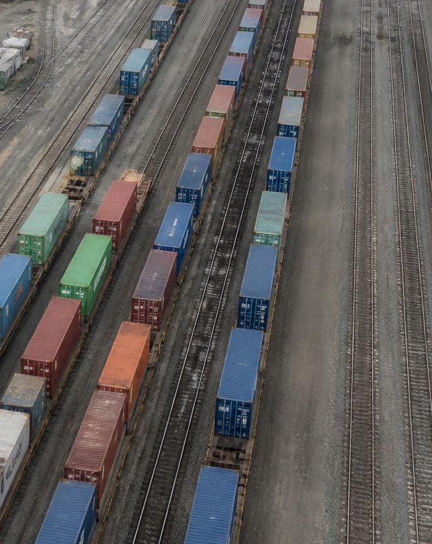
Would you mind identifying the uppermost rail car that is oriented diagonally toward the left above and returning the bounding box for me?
[148,10,183,51]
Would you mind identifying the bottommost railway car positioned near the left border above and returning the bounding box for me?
[0,399,55,532]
